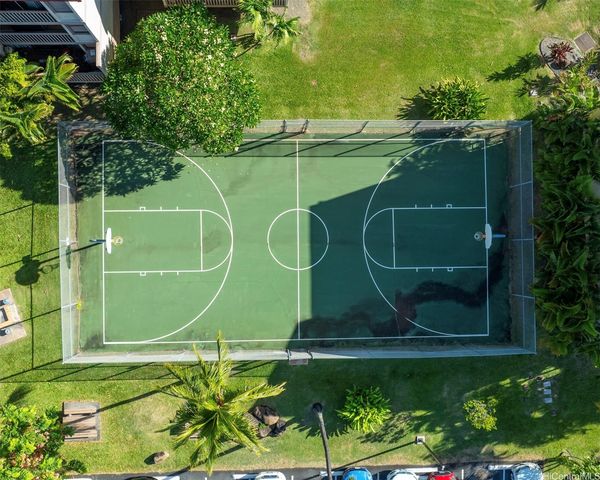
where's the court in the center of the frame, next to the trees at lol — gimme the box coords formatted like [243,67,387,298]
[79,132,511,352]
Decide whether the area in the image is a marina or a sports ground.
sports ground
